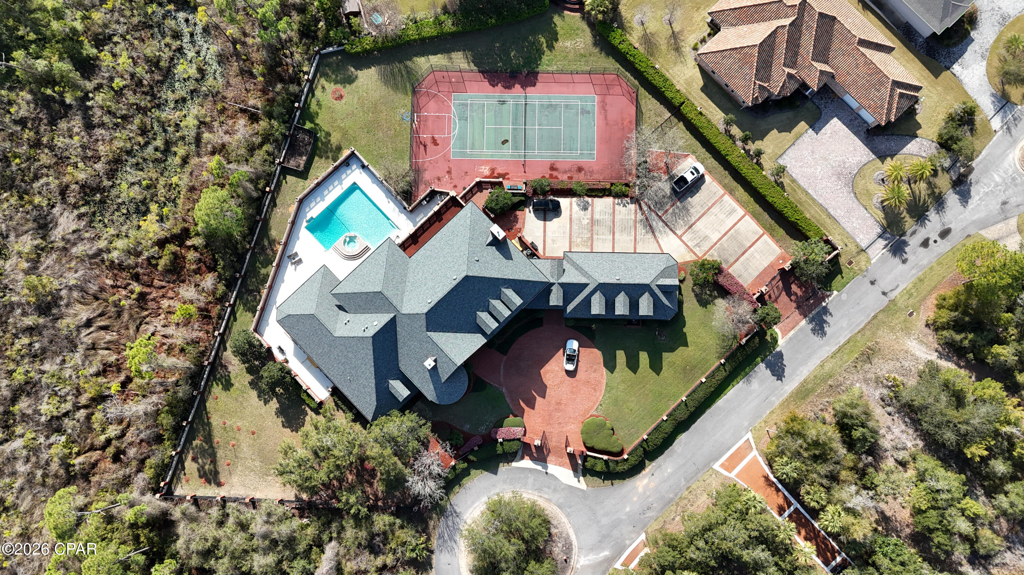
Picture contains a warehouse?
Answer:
No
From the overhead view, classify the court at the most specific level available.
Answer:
tennis court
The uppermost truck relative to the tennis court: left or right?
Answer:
on the right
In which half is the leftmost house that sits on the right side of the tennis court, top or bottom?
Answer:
top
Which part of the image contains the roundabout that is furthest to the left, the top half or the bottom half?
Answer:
bottom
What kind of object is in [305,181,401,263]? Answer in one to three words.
swimming pool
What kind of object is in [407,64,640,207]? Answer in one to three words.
tennis court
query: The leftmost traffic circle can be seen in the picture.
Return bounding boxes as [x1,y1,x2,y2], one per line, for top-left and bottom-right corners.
[459,490,577,575]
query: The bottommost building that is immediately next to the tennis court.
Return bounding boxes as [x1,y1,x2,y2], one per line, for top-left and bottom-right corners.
[276,200,679,423]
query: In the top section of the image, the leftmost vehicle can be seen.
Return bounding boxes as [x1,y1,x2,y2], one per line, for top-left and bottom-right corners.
[531,197,561,211]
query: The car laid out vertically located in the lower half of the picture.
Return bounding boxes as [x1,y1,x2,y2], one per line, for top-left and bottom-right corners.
[564,339,579,371]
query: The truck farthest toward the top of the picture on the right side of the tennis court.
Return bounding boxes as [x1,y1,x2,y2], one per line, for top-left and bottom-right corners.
[670,162,705,194]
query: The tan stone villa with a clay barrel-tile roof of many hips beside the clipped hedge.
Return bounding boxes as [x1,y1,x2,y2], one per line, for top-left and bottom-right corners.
[696,0,922,130]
